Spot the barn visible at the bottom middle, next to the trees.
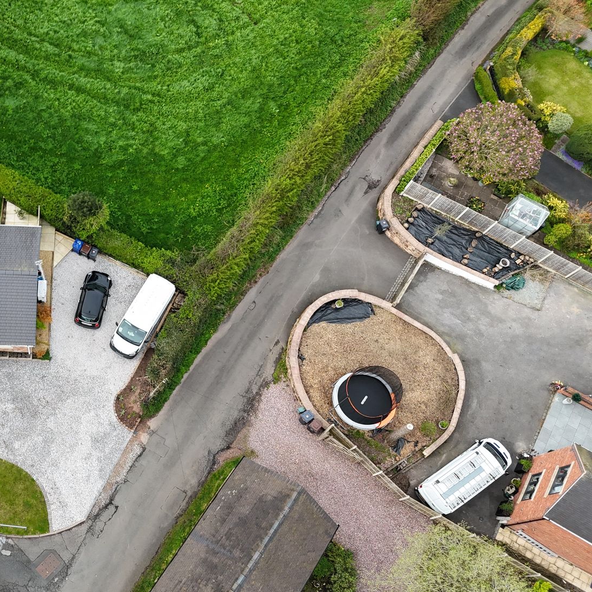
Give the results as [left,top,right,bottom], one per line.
[150,456,340,592]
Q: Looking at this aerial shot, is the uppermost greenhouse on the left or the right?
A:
right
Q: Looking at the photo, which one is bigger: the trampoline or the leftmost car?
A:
the trampoline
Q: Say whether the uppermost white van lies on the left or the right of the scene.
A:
left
